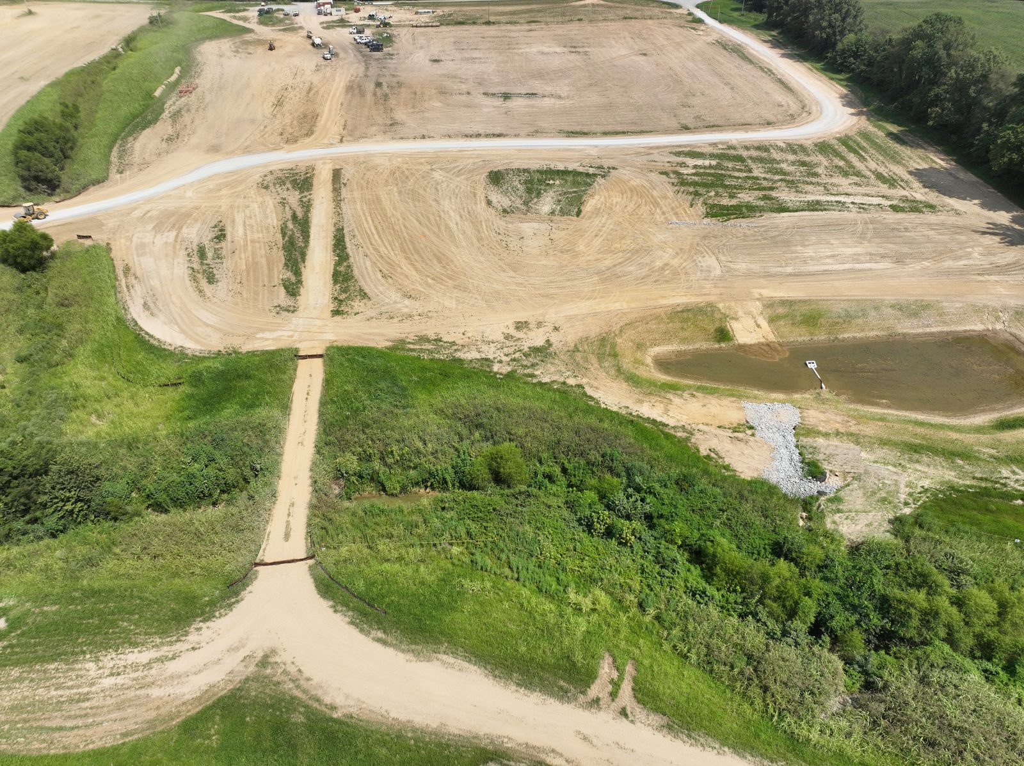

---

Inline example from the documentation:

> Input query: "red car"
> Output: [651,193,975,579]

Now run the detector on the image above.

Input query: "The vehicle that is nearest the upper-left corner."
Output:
[10,200,50,222]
